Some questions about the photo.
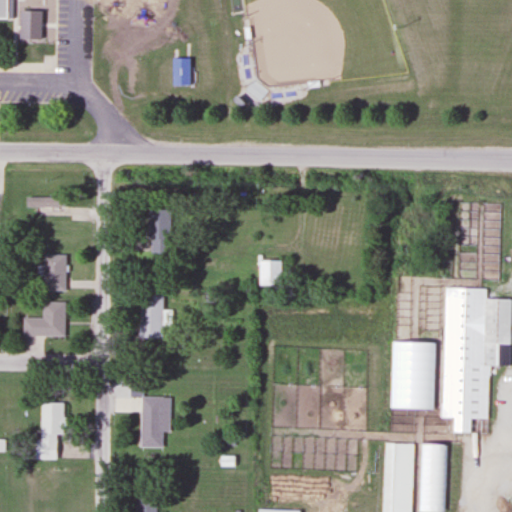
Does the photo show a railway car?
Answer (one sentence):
No, the picture doesn't show any railway car.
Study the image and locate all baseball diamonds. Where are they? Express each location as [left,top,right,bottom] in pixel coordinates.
[249,0,408,86]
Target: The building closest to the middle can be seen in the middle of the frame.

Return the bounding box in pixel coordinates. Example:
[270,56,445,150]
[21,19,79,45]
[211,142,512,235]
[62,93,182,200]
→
[258,254,282,287]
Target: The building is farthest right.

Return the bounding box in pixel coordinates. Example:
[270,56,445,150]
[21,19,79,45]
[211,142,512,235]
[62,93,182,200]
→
[441,288,512,434]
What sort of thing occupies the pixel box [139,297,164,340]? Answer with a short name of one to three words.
house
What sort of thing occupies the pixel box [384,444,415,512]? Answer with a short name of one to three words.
shed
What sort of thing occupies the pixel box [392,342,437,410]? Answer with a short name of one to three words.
greenhouse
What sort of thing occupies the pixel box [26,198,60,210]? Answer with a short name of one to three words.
house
